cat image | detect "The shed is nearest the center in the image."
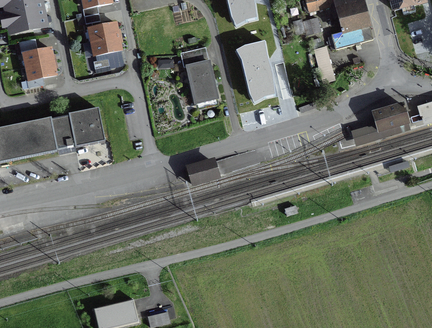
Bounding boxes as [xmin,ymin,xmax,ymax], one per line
[186,157,221,184]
